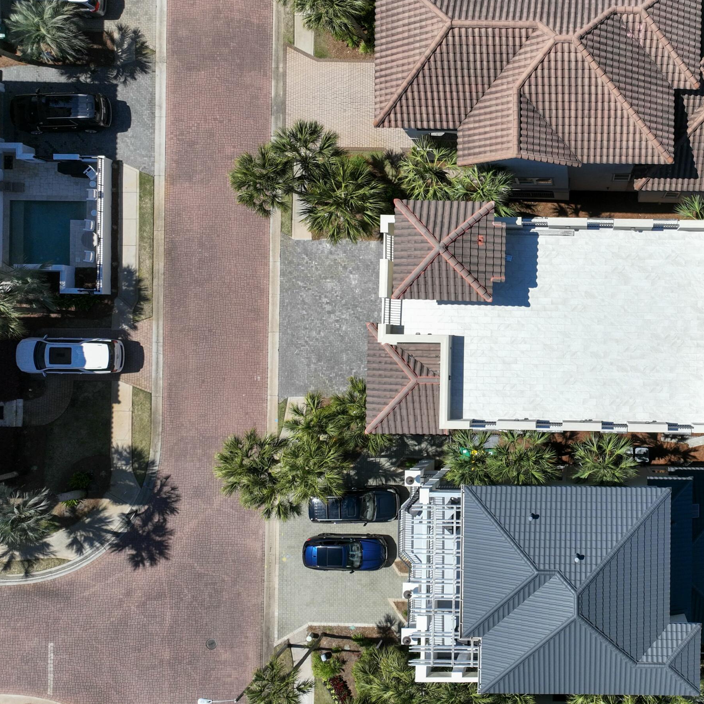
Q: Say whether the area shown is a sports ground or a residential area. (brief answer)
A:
residential area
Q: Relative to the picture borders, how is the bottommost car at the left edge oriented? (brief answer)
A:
horizontally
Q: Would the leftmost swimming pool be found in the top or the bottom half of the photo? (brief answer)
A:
top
